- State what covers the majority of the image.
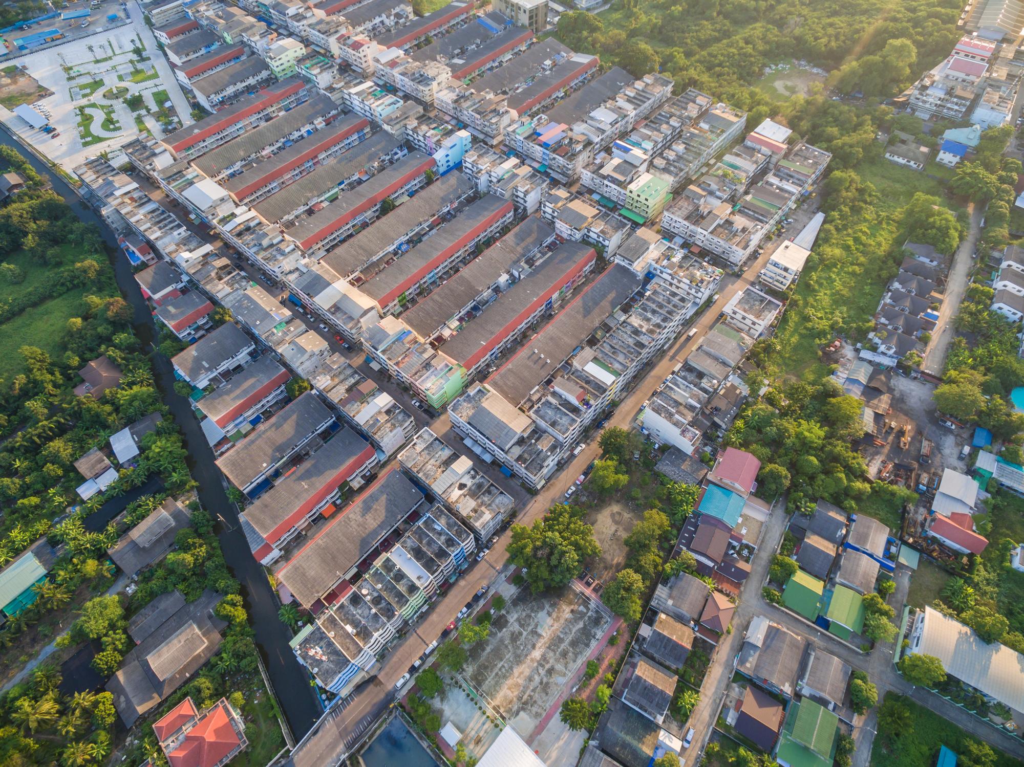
buildings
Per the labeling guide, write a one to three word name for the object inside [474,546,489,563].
vehicle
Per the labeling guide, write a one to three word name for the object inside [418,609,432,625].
car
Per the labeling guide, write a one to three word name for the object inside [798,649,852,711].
house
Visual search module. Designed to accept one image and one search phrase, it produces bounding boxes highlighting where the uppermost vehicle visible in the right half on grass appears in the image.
[828,334,845,350]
